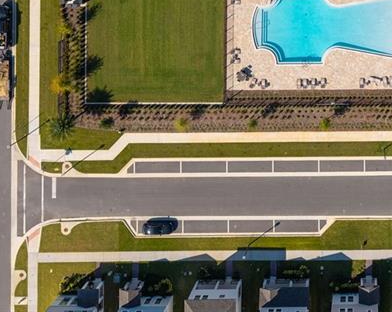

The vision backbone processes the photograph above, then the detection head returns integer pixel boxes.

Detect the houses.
[111,279,169,312]
[256,278,309,312]
[329,278,380,312]
[38,279,99,312]
[173,278,241,312]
